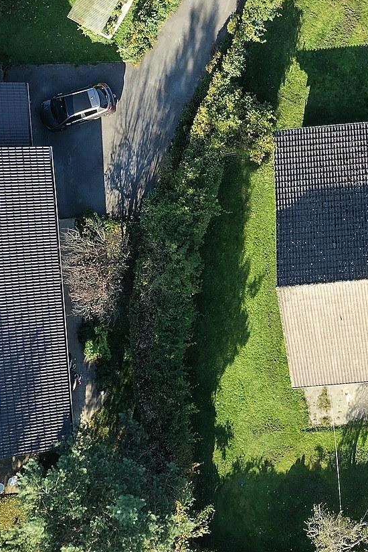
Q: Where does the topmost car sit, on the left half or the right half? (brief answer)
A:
left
